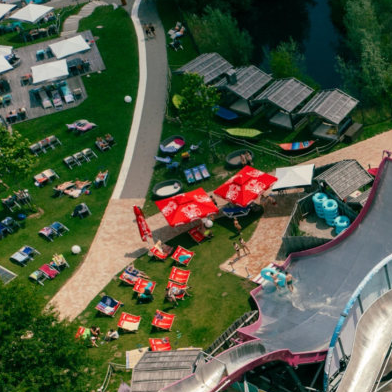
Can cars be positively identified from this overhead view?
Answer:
No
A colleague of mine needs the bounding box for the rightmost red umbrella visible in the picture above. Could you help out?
[214,166,276,215]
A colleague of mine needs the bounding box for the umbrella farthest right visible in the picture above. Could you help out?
[272,164,314,198]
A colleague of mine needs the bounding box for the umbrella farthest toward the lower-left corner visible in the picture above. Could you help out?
[123,210,154,255]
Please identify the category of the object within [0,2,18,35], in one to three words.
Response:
umbrella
